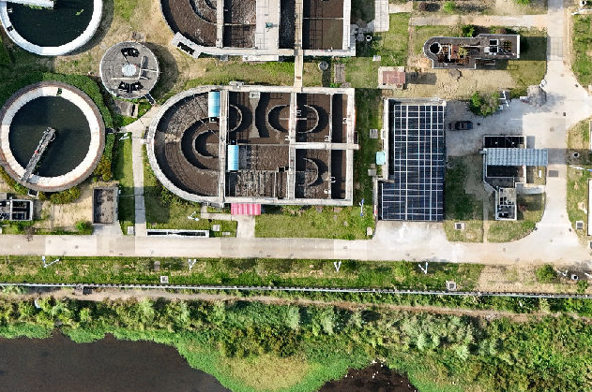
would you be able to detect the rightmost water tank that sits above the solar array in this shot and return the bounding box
[421,33,520,69]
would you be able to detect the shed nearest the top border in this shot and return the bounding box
[379,67,406,89]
